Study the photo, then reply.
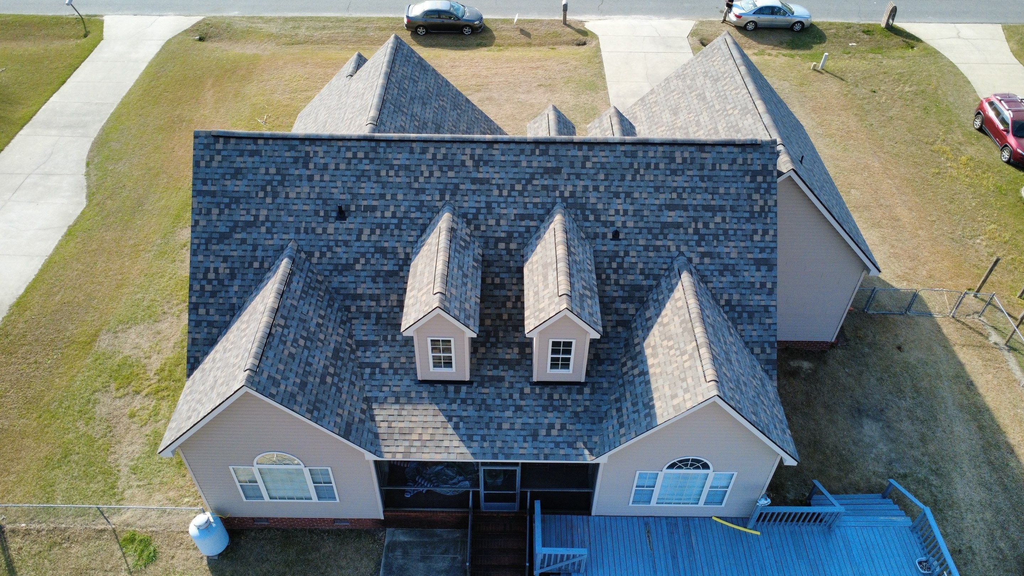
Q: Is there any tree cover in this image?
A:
No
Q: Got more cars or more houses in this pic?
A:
cars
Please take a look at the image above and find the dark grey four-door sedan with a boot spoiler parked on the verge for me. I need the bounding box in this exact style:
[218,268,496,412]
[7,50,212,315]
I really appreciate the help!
[403,0,484,35]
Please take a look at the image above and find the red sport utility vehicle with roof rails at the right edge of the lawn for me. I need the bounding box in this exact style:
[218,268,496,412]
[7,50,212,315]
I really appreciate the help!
[974,85,1024,165]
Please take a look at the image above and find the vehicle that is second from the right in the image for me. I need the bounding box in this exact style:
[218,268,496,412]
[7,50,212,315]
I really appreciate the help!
[729,0,816,32]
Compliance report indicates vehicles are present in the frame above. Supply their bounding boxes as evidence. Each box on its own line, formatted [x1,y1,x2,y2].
[403,0,484,35]
[729,0,816,32]
[974,85,1024,165]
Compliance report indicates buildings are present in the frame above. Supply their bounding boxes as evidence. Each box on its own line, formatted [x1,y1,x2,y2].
[158,31,882,576]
